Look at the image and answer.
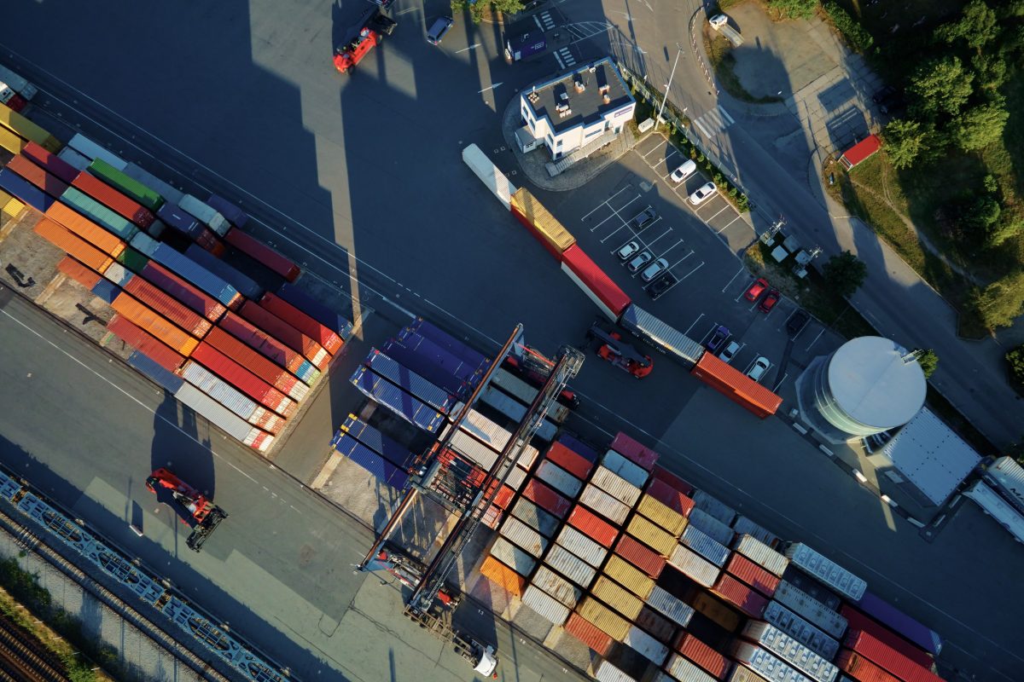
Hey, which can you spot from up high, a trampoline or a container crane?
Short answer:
container crane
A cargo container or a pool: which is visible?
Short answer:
cargo container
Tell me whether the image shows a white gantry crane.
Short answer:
No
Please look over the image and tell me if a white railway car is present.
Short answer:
No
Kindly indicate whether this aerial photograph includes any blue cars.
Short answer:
Yes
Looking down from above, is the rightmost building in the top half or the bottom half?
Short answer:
bottom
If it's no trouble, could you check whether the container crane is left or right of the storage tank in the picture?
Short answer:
on its left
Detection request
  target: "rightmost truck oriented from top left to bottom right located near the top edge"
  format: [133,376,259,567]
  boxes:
[705,12,745,46]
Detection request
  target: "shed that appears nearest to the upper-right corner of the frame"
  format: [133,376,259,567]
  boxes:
[839,135,880,171]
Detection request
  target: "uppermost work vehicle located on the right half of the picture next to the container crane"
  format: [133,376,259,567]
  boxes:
[576,304,663,379]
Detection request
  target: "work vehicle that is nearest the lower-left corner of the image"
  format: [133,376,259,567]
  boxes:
[148,475,232,550]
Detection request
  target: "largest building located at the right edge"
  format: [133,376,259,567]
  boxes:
[866,407,981,508]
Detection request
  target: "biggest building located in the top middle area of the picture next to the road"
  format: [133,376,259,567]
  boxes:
[521,56,636,160]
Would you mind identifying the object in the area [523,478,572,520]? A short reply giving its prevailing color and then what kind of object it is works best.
red shipping container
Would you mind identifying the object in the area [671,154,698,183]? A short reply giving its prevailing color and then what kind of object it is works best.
white vehicle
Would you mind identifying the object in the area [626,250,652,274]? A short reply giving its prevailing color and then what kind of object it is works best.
blue car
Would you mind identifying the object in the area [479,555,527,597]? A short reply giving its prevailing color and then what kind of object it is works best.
orange shipping container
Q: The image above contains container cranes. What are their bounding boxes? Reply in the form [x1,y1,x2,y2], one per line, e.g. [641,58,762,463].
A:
[361,328,591,623]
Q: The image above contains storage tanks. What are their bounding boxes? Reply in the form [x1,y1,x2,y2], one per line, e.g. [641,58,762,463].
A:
[802,335,928,440]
